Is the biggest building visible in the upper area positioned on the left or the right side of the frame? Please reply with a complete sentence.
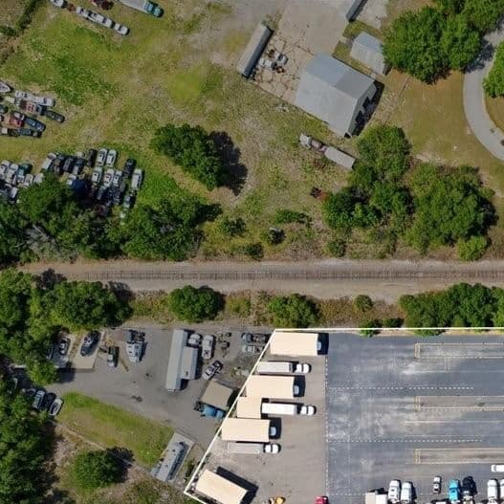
The biggest building visible in the upper area sits on the right side.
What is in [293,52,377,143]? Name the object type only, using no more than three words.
building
